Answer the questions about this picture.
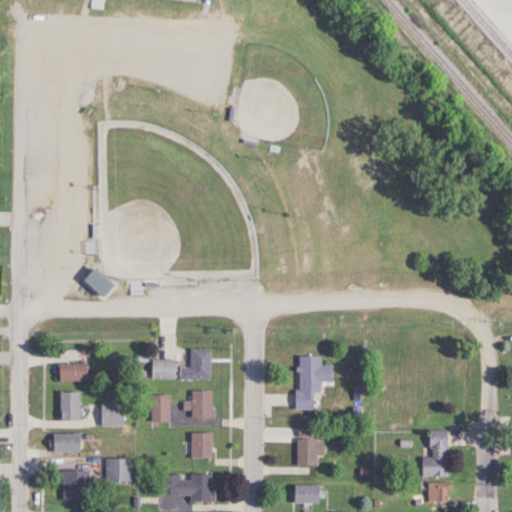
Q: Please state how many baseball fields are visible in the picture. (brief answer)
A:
2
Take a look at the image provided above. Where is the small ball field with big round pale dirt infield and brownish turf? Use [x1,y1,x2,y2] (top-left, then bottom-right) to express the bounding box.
[230,44,330,152]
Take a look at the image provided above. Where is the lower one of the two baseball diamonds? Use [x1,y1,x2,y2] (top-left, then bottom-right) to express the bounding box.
[97,120,256,279]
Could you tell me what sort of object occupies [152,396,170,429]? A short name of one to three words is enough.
building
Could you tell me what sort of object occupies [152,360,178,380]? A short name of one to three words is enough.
building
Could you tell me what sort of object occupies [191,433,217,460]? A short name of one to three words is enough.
house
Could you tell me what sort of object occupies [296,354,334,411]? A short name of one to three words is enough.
house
